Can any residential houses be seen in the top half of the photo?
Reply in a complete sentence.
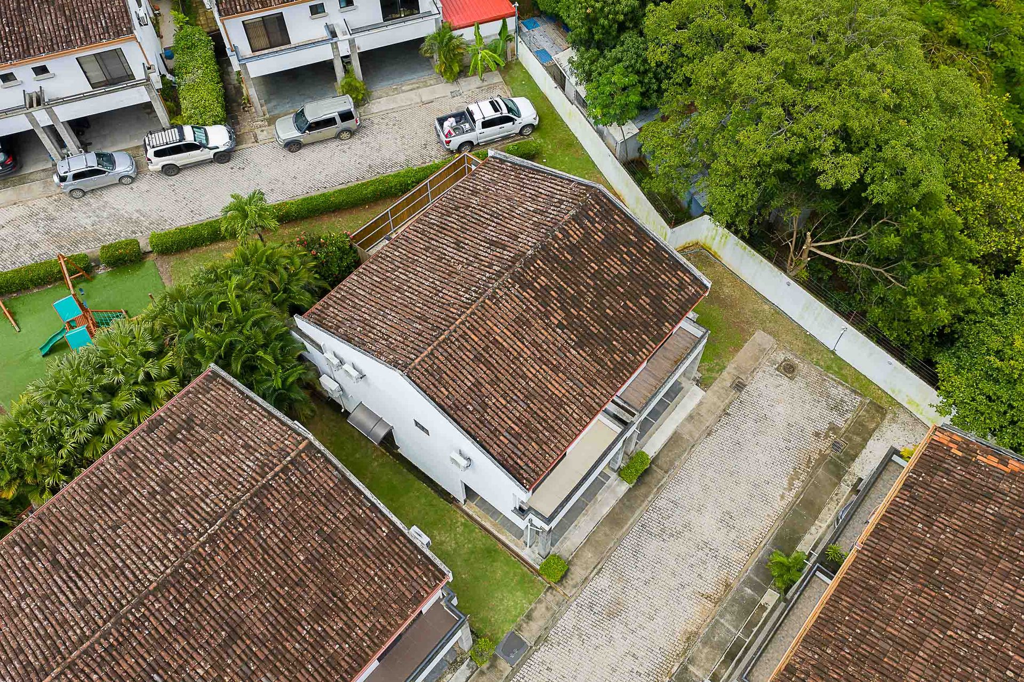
Yes, the scene does show a residential house in the top half of the photo.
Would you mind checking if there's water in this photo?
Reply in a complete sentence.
No, the picture contains no water.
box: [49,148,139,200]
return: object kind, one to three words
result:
car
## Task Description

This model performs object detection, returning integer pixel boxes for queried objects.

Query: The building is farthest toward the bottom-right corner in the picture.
[730,424,1024,682]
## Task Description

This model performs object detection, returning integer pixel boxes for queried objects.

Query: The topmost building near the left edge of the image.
[0,0,171,175]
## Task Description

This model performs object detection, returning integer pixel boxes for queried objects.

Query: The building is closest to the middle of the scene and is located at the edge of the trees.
[297,156,714,561]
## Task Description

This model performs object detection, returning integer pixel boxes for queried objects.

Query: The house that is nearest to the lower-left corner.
[0,366,473,682]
